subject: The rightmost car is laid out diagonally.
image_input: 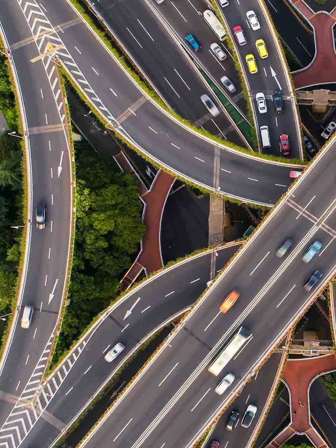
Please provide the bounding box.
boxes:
[322,120,336,138]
